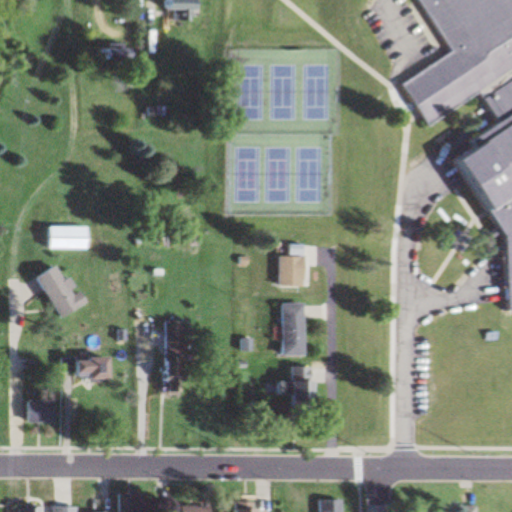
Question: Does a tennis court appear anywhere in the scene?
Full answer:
Yes, the picture does show a tennis court.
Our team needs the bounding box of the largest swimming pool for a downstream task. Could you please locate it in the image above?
[86,334,100,350]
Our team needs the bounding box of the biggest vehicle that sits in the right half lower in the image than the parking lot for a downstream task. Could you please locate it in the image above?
[435,142,452,166]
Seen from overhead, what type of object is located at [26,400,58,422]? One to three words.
house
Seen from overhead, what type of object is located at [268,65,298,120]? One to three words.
tennis court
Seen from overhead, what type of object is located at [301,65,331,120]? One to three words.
tennis court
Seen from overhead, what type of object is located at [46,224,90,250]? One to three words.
shed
